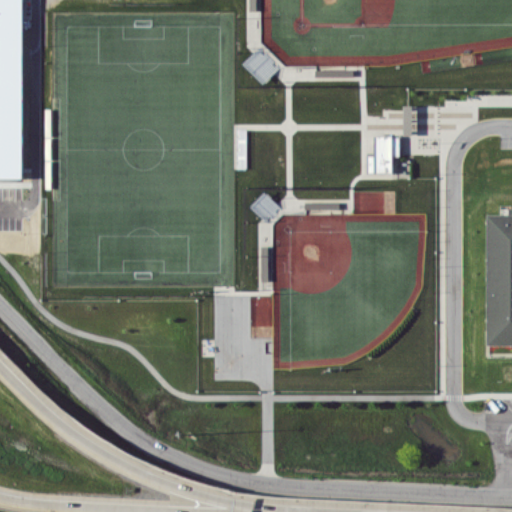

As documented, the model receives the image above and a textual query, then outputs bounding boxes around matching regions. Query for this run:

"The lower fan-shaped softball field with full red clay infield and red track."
[250,191,425,369]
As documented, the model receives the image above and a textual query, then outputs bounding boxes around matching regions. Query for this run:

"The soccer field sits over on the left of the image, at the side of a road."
[52,13,236,288]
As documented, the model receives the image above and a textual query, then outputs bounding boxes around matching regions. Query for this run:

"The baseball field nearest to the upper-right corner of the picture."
[264,0,512,74]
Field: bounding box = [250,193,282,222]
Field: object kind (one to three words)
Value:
building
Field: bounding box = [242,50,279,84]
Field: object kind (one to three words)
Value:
building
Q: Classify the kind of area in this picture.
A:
sports ground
